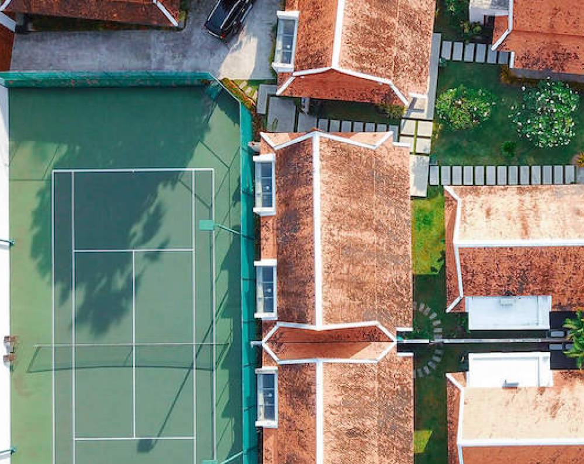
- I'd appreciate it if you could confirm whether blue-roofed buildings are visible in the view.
No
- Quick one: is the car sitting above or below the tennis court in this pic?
above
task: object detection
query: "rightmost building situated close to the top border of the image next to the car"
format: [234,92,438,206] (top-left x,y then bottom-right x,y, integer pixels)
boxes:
[274,0,433,108]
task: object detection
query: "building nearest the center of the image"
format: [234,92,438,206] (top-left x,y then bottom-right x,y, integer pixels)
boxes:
[254,130,414,342]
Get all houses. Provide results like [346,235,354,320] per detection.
[256,341,415,464]
[274,0,433,108]
[254,130,414,342]
[470,0,584,75]
[443,185,584,330]
[444,352,584,464]
[0,0,184,29]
